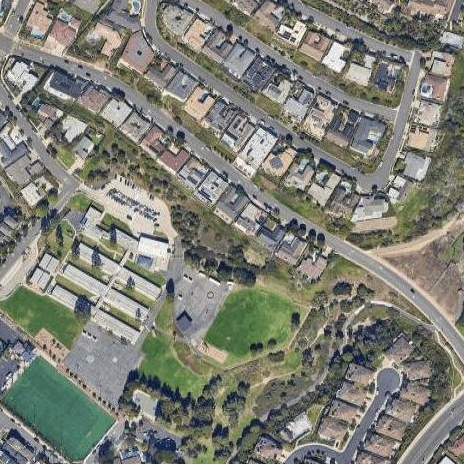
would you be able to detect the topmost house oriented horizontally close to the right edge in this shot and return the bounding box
[405,0,446,19]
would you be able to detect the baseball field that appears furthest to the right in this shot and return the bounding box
[197,287,309,367]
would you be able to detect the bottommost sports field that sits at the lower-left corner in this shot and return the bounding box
[2,356,114,462]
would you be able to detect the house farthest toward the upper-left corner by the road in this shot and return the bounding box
[27,4,54,36]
